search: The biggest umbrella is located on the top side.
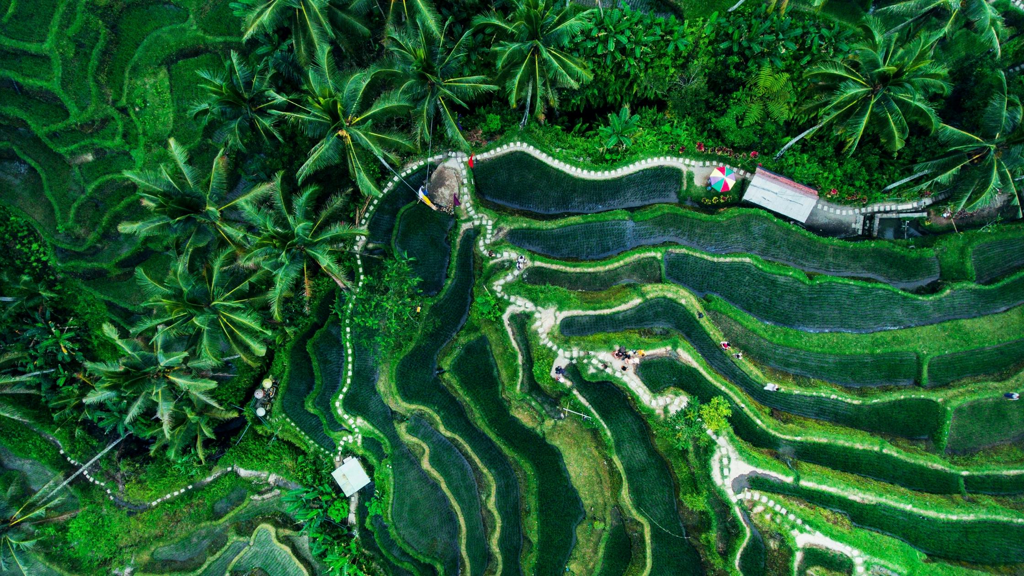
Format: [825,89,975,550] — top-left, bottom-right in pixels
[711,165,736,191]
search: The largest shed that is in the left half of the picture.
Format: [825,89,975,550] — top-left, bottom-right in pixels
[331,455,371,497]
